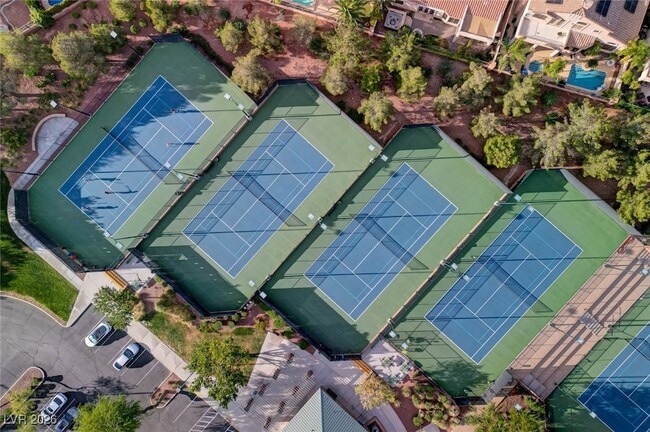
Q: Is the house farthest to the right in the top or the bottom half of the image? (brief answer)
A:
top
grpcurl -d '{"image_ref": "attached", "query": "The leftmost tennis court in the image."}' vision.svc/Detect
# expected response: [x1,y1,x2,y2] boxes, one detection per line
[28,42,257,270]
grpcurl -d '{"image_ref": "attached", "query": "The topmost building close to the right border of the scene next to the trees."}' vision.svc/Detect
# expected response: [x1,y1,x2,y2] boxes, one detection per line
[506,0,650,68]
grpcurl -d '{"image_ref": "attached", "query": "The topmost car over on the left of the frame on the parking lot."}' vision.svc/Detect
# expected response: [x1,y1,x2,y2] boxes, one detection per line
[86,319,113,347]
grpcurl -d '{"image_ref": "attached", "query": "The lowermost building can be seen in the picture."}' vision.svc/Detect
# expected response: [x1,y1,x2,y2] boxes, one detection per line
[280,386,374,432]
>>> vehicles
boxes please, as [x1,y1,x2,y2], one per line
[39,389,69,420]
[86,319,113,347]
[113,341,142,370]
[51,400,83,432]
